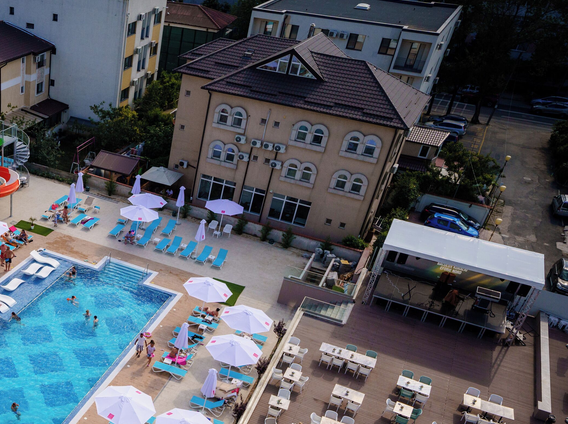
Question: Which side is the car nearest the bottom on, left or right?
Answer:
right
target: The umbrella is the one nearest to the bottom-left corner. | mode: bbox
[92,389,155,424]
